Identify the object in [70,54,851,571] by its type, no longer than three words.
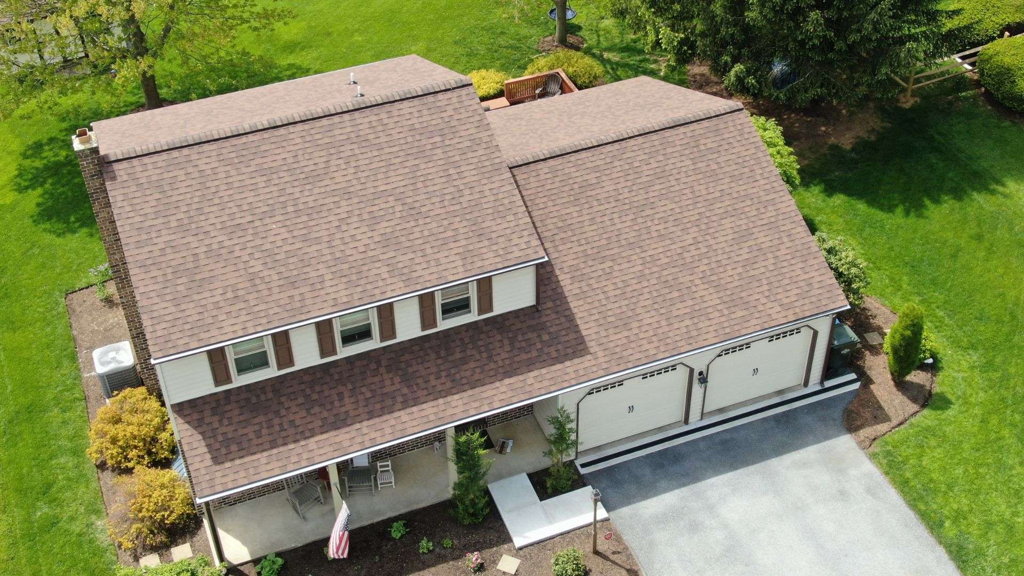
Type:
house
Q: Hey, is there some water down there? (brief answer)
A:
No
